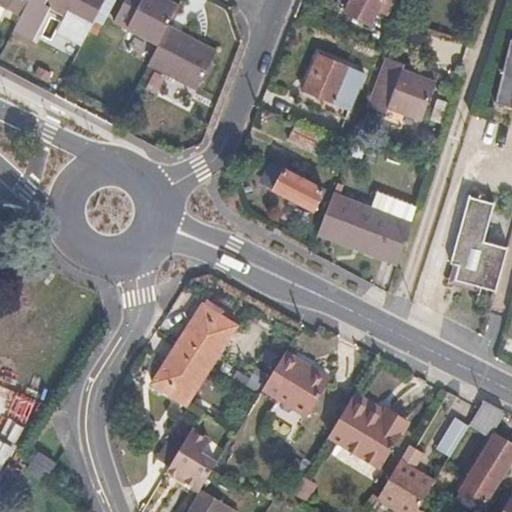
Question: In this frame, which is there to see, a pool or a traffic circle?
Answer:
traffic circle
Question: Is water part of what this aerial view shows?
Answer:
No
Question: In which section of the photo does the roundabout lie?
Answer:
left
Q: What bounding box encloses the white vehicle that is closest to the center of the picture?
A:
[220,254,250,274]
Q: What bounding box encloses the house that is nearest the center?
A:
[272,168,328,214]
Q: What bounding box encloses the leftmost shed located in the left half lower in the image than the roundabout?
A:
[28,452,56,474]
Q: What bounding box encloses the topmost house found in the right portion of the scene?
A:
[344,0,394,30]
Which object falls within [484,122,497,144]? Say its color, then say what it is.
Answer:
white vehicle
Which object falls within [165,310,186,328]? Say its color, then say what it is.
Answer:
white car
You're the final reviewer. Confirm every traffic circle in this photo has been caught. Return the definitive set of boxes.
[36,140,184,284]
